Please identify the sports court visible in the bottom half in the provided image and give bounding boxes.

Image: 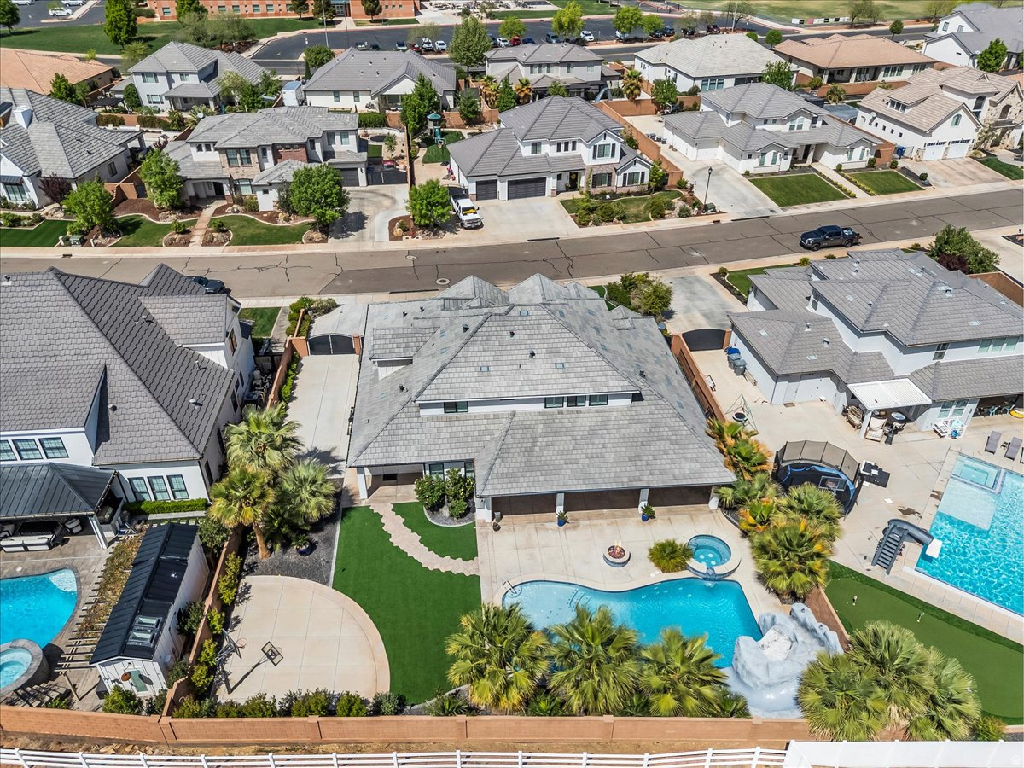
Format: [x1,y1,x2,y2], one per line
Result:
[204,580,376,702]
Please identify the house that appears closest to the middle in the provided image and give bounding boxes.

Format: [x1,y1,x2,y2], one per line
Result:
[344,270,740,526]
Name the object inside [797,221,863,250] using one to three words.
truck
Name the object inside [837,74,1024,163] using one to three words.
house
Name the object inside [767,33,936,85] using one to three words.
house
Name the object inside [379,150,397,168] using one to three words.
car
